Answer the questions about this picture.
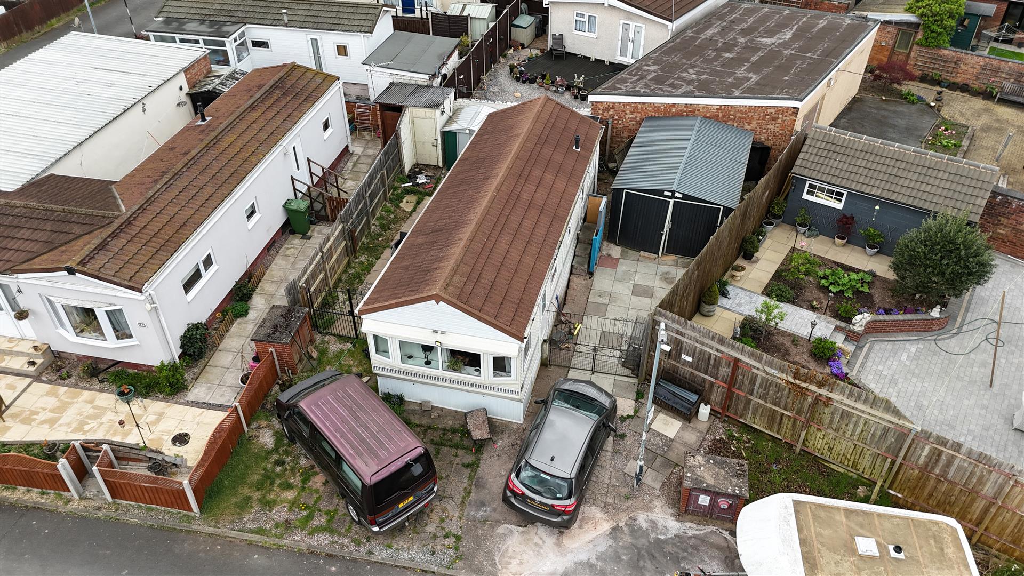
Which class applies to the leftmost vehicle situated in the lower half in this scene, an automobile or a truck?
automobile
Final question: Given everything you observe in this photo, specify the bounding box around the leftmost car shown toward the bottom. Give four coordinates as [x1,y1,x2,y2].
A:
[500,385,615,532]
